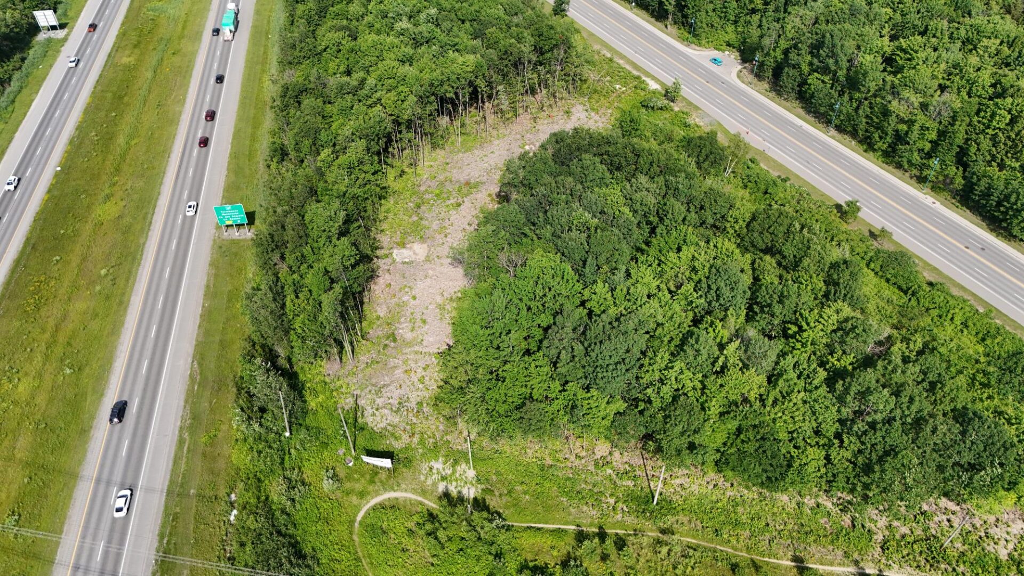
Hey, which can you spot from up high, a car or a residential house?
car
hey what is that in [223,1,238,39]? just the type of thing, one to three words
vehicle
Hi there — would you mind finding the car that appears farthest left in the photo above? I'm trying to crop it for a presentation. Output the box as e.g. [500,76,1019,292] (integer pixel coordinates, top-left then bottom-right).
[4,176,18,190]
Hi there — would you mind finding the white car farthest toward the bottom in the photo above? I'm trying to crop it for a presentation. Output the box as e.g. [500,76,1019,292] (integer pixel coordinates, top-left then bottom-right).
[113,488,132,518]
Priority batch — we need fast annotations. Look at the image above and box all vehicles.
[186,202,197,215]
[212,27,220,35]
[88,23,96,31]
[709,58,724,66]
[215,73,224,83]
[205,109,215,120]
[113,488,132,518]
[4,176,18,190]
[68,57,79,66]
[108,399,127,424]
[223,1,238,39]
[198,135,208,147]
